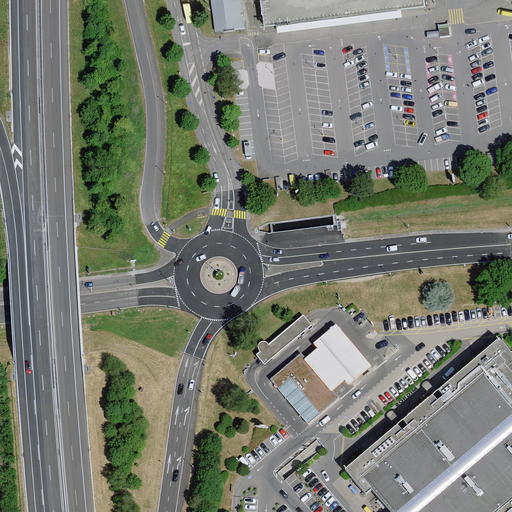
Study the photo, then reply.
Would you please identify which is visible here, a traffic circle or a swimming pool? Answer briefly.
traffic circle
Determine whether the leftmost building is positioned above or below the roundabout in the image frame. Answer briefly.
above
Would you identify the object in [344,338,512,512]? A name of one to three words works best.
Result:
building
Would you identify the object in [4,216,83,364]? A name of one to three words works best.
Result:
overpass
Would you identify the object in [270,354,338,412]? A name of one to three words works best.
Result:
building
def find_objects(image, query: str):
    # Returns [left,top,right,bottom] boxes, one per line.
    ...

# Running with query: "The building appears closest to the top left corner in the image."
[213,0,244,34]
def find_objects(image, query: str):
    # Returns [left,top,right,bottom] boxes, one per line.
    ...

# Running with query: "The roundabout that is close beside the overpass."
[136,186,264,360]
